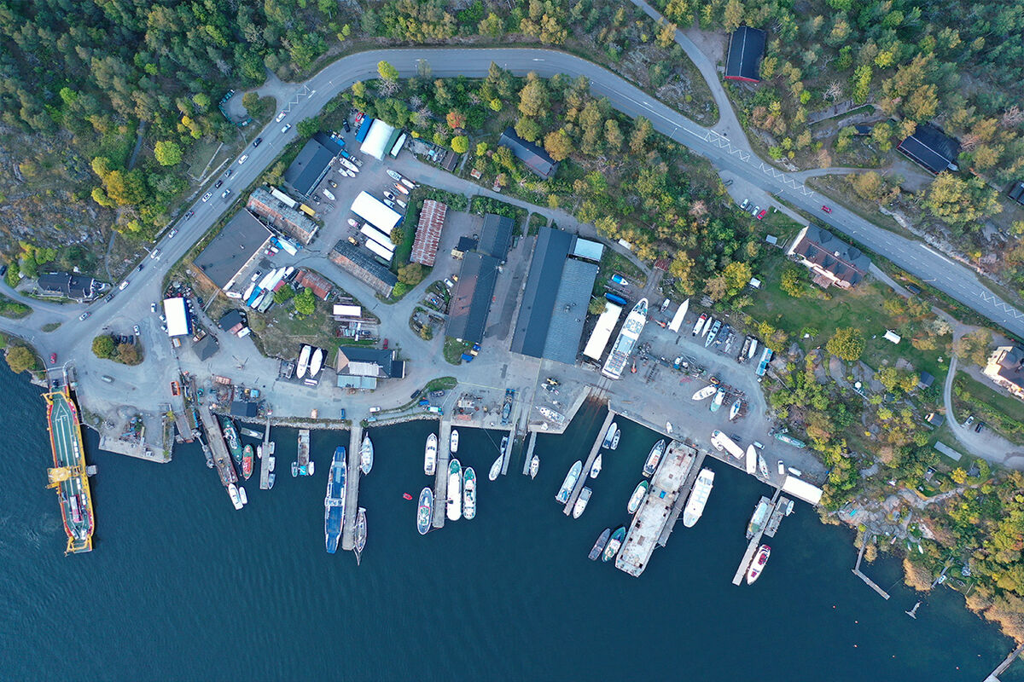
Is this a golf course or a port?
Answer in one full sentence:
This image shows a port.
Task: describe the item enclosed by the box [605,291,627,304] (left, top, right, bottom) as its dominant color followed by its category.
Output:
blue boat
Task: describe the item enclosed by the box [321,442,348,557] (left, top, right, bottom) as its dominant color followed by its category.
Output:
blue ship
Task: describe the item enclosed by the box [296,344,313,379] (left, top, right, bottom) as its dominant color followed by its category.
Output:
white boat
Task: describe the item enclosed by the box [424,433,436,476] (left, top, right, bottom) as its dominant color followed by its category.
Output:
white boat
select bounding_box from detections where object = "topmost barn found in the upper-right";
[724,30,766,84]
